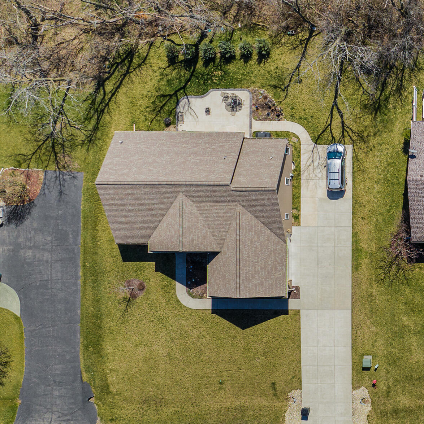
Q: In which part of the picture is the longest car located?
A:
right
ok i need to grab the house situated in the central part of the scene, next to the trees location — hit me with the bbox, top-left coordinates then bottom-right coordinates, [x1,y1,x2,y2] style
[95,124,296,301]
